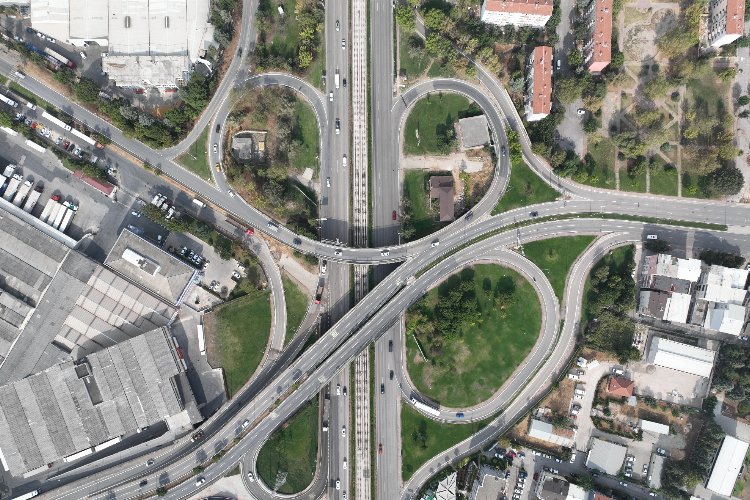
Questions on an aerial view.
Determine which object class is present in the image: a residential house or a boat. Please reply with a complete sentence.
Of the two, only a residential house appears.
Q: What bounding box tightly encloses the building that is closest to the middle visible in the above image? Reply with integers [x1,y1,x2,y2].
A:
[429,176,454,222]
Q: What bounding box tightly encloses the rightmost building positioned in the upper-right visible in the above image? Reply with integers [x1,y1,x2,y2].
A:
[707,0,746,46]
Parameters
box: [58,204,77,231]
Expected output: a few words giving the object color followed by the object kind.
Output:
white vehicle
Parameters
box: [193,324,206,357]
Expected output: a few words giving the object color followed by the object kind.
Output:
white vehicle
